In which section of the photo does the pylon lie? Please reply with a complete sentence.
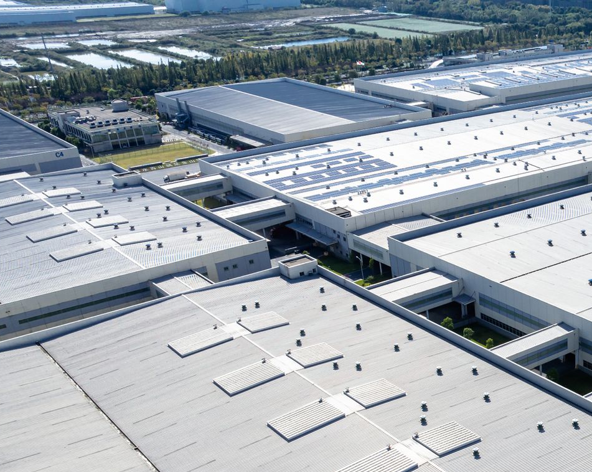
The pylon is located in the top left region of the scene.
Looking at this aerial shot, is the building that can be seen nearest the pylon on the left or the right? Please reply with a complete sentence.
It is on the left.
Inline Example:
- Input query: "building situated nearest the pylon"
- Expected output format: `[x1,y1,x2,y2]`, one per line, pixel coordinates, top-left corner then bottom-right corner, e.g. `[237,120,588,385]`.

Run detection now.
[0,2,76,25]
